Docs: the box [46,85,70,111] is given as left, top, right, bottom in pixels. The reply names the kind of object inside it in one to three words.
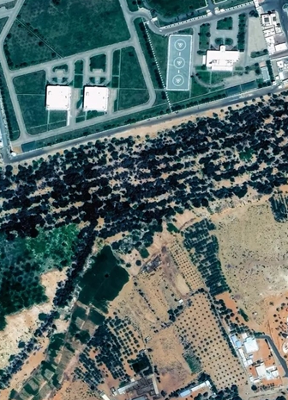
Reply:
building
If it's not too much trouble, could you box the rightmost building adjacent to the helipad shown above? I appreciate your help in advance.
[207,50,240,70]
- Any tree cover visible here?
Yes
